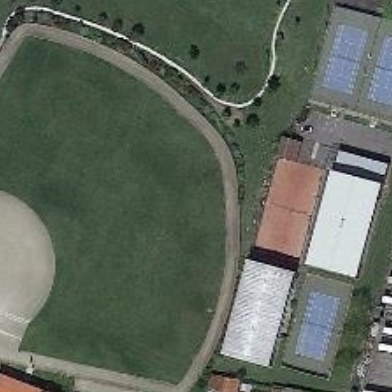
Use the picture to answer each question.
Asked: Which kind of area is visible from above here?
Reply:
sports ground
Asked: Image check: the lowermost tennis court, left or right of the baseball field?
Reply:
on its right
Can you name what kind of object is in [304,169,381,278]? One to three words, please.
building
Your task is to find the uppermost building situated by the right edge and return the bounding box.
[333,149,387,176]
